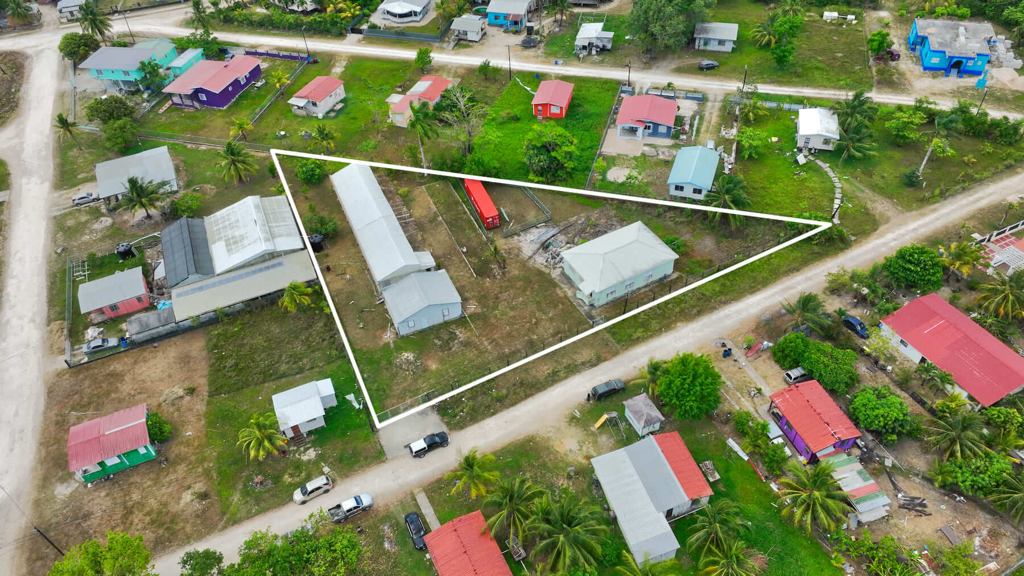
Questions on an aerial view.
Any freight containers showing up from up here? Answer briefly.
Yes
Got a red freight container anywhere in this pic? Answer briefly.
Yes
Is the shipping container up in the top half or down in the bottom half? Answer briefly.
top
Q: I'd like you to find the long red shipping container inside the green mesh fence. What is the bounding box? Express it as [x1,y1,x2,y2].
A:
[463,173,500,230]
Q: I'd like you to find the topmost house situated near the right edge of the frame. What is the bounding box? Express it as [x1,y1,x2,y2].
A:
[906,17,997,86]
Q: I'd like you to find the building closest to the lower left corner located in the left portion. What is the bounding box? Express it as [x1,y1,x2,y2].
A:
[65,403,156,480]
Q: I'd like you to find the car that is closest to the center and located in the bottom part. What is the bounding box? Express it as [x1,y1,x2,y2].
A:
[590,379,627,400]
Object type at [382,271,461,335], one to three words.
shed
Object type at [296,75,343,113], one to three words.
house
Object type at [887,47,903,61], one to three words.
car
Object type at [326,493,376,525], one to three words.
truck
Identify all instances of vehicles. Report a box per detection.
[887,47,903,61]
[82,337,121,355]
[697,59,720,70]
[326,493,376,525]
[401,508,429,553]
[836,315,874,340]
[70,192,100,207]
[590,379,627,400]
[292,474,334,505]
[782,363,818,386]
[400,431,452,459]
